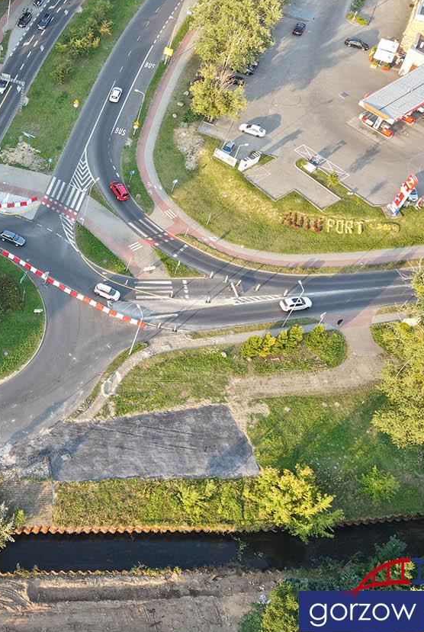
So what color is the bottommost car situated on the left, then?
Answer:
white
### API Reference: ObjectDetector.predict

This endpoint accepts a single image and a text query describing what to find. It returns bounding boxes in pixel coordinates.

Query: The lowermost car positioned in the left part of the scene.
[92,282,121,304]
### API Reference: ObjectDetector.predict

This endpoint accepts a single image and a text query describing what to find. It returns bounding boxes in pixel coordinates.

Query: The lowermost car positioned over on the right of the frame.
[279,298,312,314]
